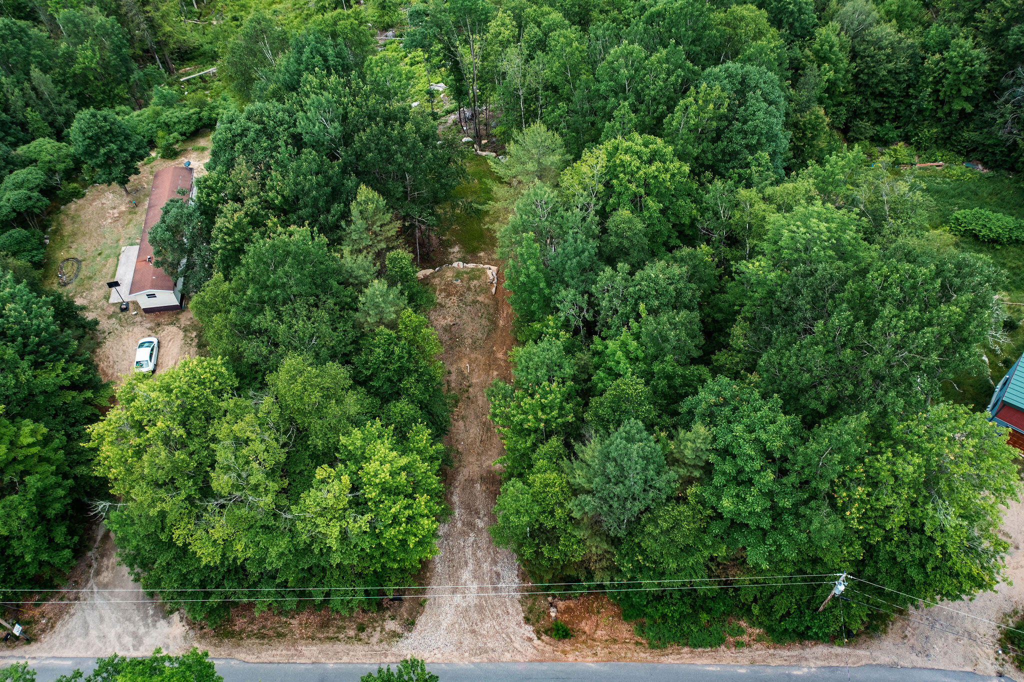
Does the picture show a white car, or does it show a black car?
white car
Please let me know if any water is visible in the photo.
No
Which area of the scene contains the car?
left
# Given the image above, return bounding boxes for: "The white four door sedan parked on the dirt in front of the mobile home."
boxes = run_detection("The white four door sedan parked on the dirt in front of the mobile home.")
[133,336,159,374]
